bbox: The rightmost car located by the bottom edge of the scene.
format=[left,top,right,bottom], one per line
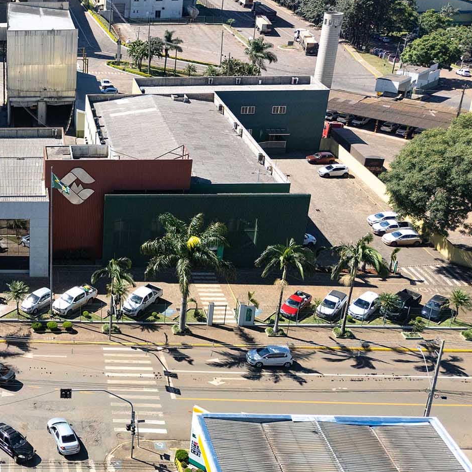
[46,409,86,453]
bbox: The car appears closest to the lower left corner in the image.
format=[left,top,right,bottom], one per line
[0,414,36,460]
